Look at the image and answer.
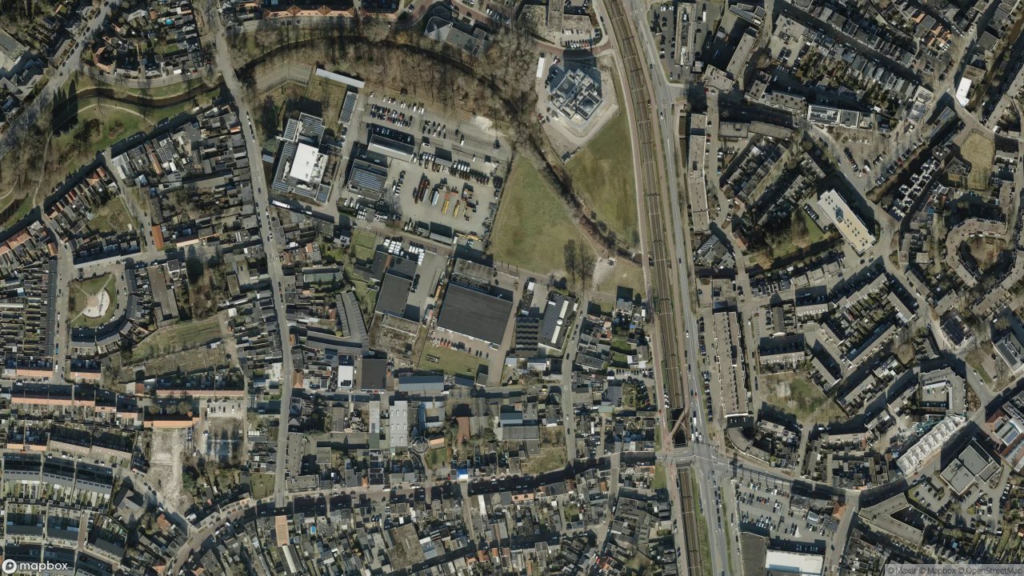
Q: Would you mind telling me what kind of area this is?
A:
residential area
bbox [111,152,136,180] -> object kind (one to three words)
building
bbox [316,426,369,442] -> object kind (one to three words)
shed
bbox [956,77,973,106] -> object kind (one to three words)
house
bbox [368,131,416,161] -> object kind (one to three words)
building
